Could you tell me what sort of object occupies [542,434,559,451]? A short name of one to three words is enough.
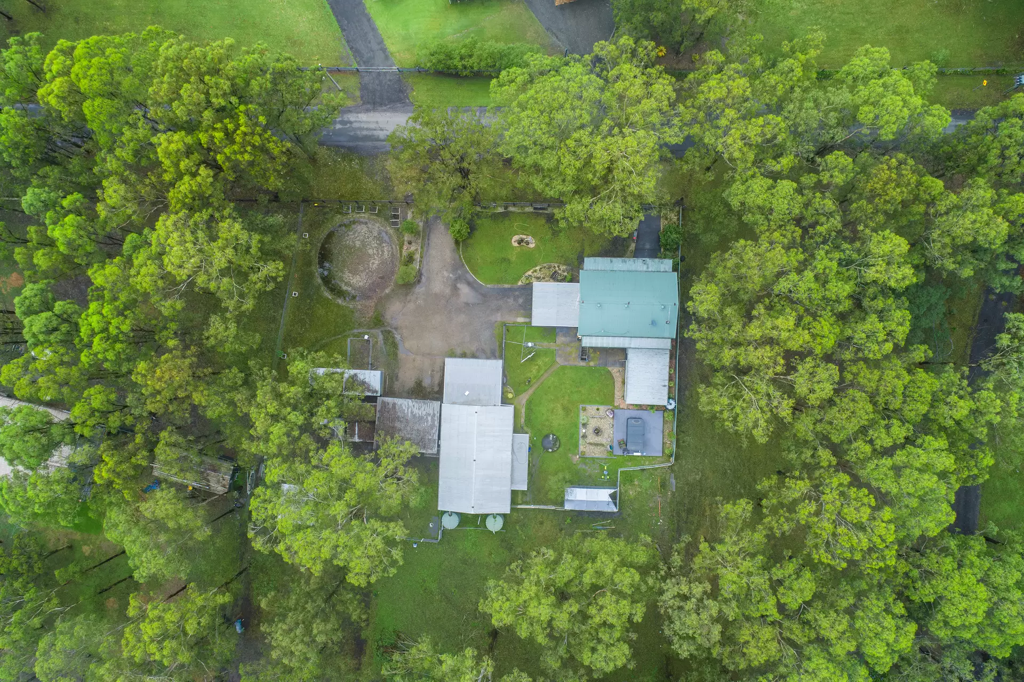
trampoline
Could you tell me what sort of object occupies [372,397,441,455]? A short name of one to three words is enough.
barn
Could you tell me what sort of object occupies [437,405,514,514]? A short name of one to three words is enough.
shed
